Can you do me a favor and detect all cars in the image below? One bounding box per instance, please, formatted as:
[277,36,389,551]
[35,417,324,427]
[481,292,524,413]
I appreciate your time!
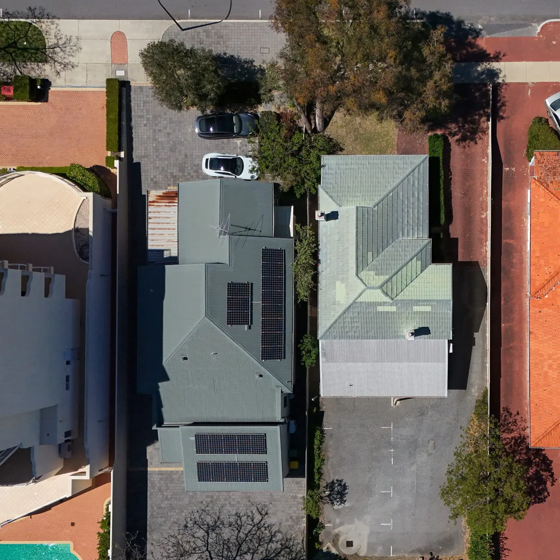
[545,91,560,132]
[193,110,259,142]
[201,151,259,180]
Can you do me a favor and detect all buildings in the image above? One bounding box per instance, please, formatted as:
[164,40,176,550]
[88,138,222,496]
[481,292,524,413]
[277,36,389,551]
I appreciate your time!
[0,169,111,529]
[316,154,453,397]
[524,150,560,449]
[136,178,297,492]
